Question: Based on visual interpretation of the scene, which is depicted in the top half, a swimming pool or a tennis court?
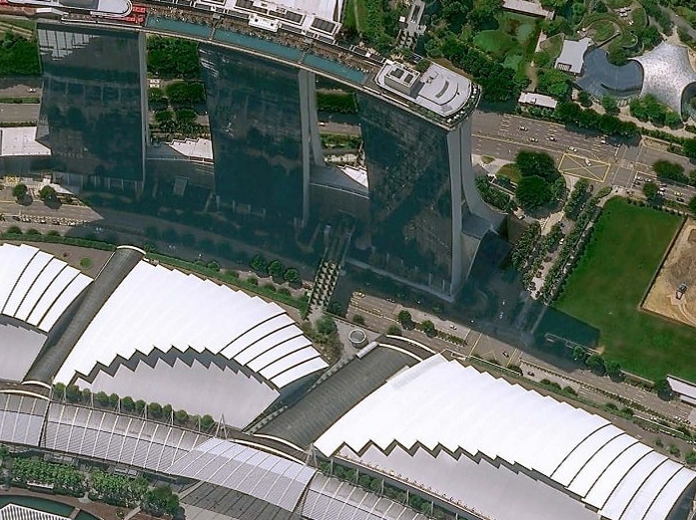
swimming pool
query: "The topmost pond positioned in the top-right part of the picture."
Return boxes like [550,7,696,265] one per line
[476,15,540,69]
